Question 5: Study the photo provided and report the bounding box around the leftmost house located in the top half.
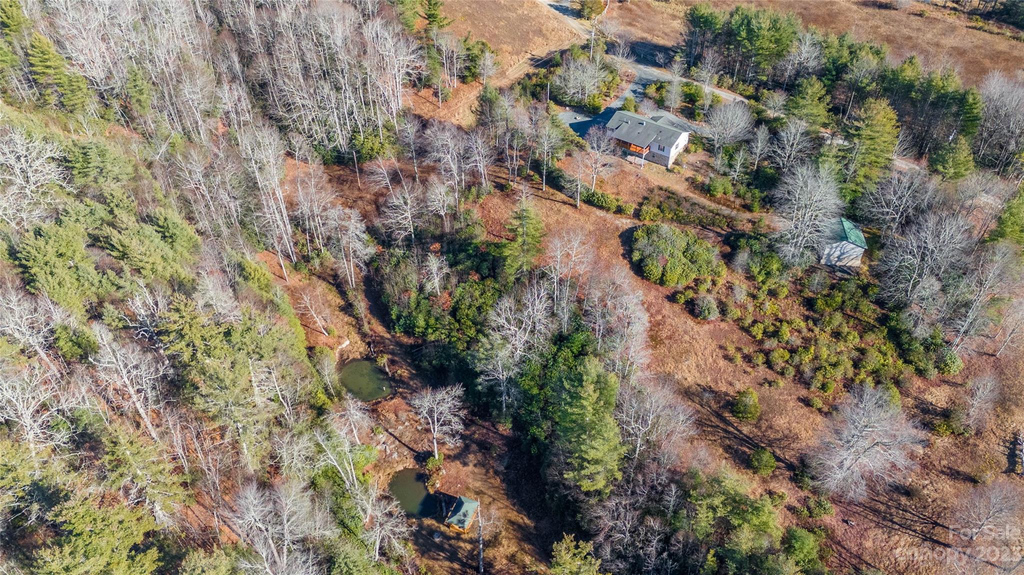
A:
[606,109,691,167]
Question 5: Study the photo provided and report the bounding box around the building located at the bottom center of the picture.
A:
[446,495,479,539]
